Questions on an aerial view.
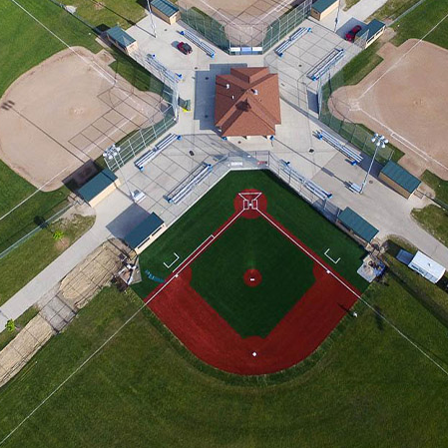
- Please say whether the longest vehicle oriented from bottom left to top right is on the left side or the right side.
right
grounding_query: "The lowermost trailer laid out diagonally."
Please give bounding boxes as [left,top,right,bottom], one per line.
[399,250,445,285]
